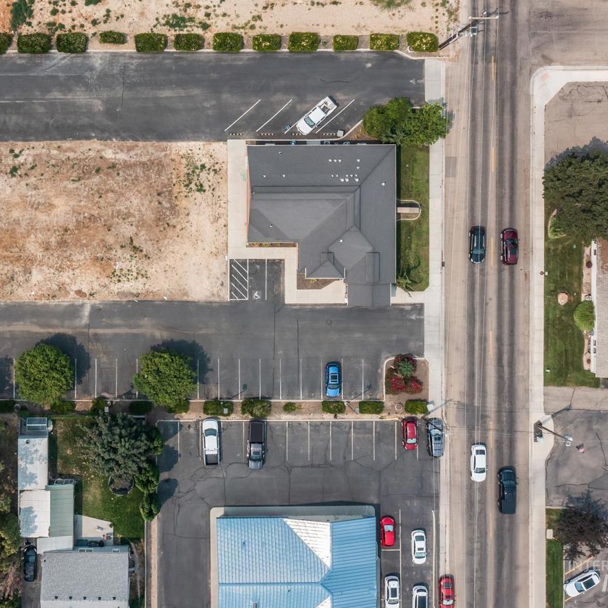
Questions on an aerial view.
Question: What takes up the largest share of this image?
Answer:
paved ground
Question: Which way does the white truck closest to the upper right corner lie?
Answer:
diagonally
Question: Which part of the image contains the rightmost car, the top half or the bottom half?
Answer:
bottom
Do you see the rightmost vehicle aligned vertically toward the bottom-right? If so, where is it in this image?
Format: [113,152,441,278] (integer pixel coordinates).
[497,465,518,513]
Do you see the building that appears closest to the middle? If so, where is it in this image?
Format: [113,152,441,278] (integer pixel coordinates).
[246,144,398,306]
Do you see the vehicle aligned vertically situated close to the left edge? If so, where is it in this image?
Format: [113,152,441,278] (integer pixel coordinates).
[21,543,38,581]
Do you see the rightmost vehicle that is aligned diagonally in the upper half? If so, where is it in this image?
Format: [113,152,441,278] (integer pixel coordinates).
[297,94,340,134]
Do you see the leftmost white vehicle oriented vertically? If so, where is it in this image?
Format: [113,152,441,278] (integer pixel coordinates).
[203,417,220,465]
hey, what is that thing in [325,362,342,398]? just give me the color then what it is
blue car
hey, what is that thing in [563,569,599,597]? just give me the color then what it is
white car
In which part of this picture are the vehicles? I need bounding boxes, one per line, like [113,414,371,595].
[203,417,220,465]
[401,417,418,449]
[410,527,427,563]
[411,583,427,608]
[438,574,457,608]
[467,227,486,263]
[384,573,402,608]
[470,443,488,481]
[325,362,342,398]
[425,416,442,454]
[297,94,340,134]
[248,419,266,467]
[497,465,518,513]
[563,569,599,597]
[499,228,520,264]
[21,543,38,581]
